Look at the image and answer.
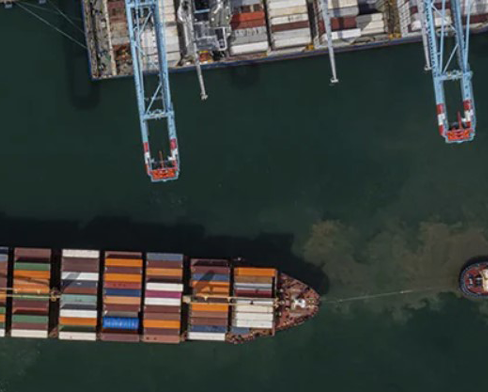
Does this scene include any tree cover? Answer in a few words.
No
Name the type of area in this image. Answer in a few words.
port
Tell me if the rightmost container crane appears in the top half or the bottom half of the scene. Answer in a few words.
top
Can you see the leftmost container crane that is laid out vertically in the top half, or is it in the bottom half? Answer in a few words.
top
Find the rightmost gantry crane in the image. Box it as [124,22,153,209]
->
[425,0,479,144]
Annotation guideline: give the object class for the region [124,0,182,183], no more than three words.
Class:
container crane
